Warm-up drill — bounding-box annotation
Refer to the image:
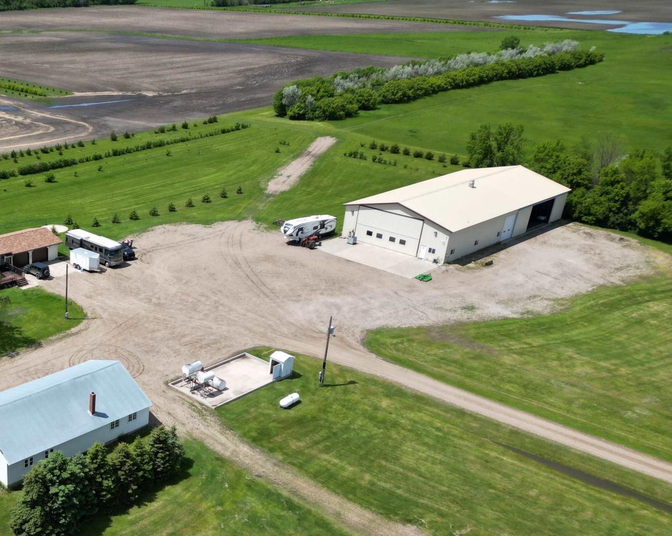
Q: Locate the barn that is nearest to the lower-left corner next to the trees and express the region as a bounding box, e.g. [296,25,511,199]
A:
[0,359,154,487]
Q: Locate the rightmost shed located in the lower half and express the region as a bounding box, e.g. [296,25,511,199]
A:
[272,352,296,380]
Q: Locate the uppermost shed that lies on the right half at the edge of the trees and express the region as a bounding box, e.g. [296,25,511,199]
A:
[341,165,565,265]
